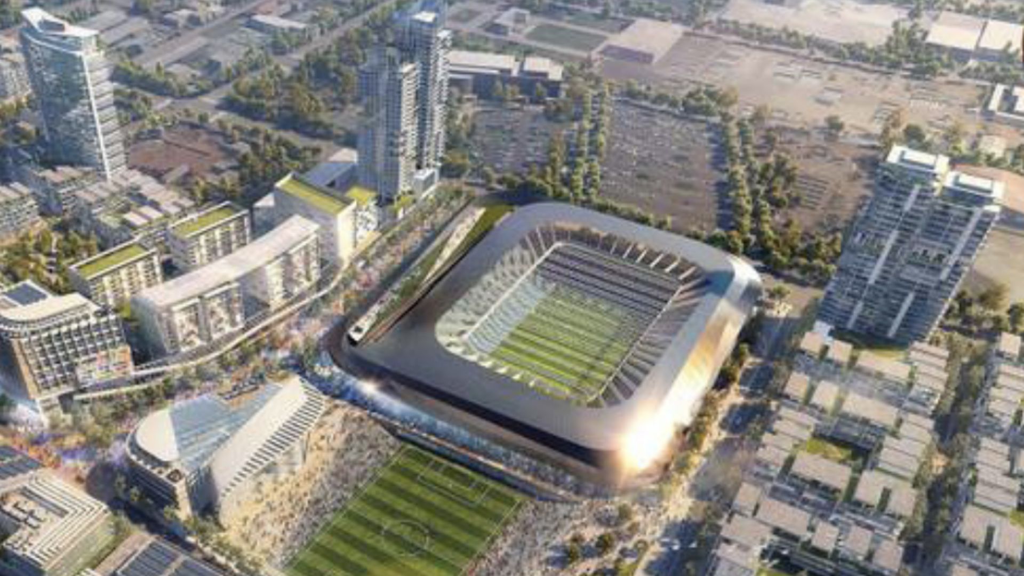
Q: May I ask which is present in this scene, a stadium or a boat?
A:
stadium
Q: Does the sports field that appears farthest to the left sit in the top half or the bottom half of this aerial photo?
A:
bottom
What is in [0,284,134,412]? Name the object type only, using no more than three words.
building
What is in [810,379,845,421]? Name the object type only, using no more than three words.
house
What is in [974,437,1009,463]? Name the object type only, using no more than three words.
house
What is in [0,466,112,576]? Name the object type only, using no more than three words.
building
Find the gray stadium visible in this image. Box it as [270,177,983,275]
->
[306,193,758,510]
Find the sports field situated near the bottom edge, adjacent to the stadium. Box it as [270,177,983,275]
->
[281,438,529,576]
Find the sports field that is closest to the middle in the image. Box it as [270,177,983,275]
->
[491,293,656,408]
